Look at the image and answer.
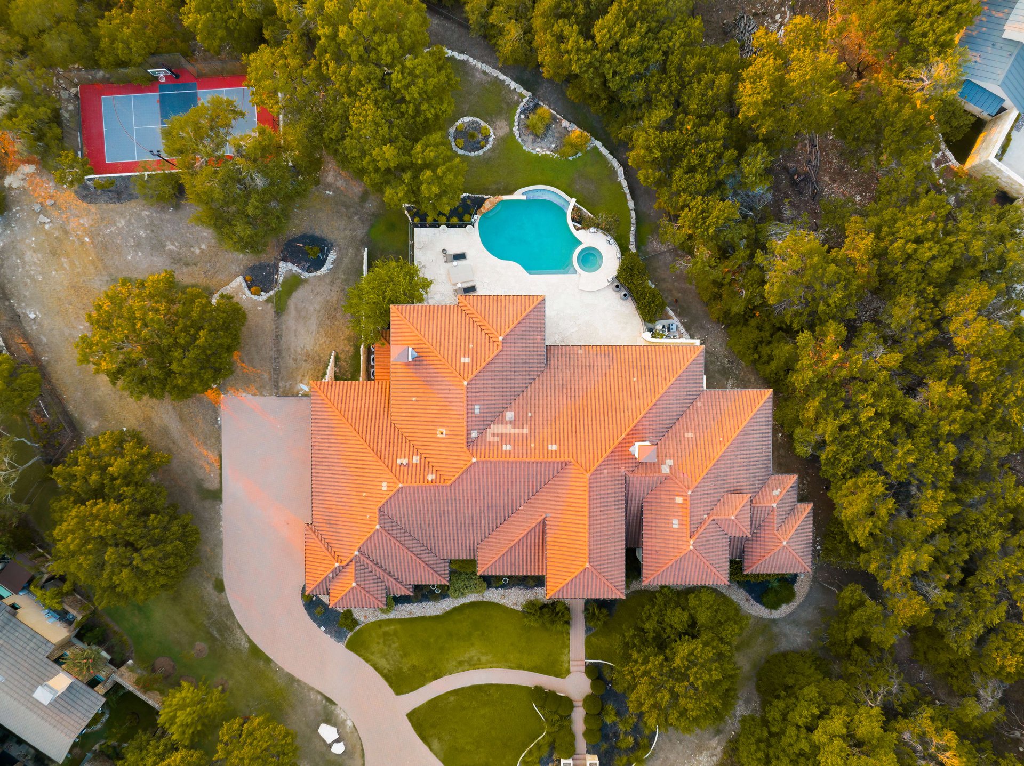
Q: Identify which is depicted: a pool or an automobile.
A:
pool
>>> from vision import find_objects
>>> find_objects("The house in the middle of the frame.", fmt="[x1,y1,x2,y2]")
[303,294,814,610]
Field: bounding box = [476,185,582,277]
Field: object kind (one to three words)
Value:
swimming pool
